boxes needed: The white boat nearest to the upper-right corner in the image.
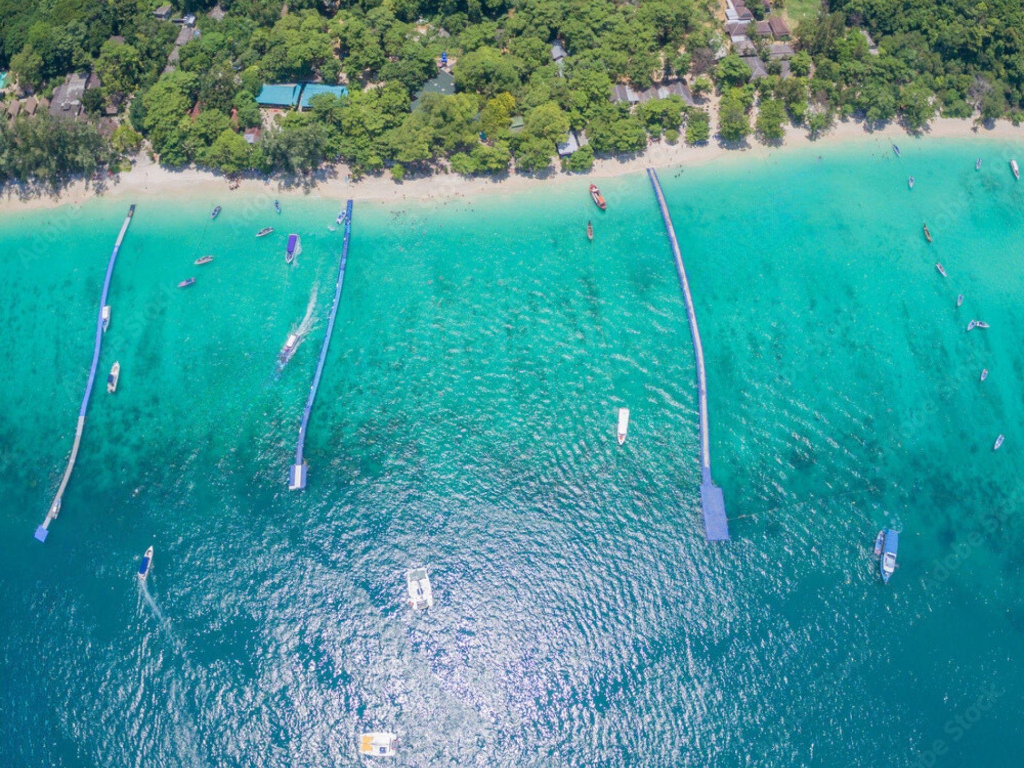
[1008,157,1020,181]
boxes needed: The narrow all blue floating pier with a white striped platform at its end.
[290,200,353,489]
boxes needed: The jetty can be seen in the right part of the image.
[648,168,728,541]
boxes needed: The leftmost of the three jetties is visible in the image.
[35,205,136,542]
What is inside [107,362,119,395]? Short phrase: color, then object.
white boat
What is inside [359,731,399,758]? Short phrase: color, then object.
white boat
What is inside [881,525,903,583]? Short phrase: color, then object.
blue boat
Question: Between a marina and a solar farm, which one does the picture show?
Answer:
marina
